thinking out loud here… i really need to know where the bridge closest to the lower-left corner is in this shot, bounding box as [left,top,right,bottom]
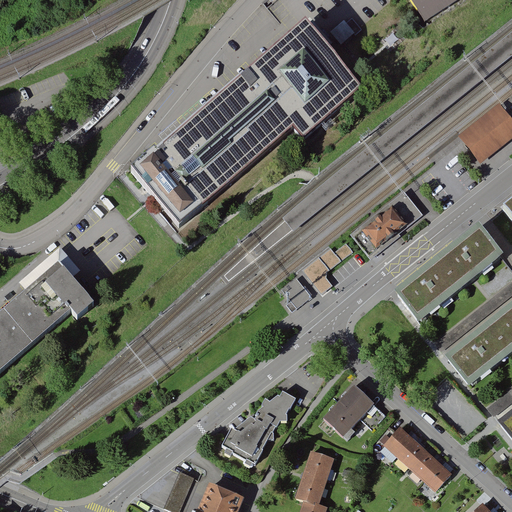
[0,450,58,486]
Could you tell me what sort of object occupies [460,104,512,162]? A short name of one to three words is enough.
shed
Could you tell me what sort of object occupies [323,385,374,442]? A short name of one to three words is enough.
house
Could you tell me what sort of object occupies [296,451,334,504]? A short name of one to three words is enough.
house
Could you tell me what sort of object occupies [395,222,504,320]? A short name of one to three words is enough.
building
